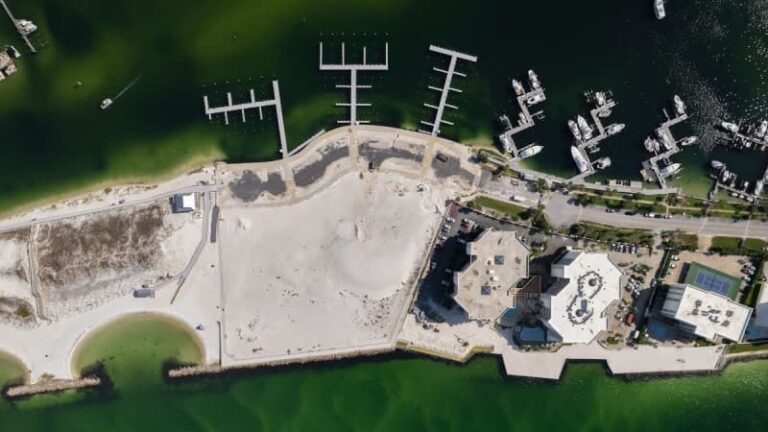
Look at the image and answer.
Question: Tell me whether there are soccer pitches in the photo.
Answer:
No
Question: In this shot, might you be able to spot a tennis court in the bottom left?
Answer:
No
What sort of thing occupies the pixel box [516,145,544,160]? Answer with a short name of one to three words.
boat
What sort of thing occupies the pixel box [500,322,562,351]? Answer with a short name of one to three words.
swimming pool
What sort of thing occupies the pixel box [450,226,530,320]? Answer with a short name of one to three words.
building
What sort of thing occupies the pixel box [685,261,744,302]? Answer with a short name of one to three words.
tennis court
